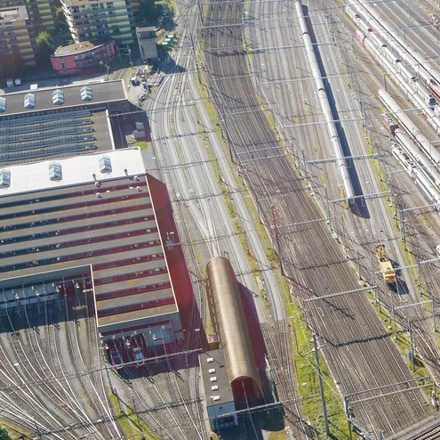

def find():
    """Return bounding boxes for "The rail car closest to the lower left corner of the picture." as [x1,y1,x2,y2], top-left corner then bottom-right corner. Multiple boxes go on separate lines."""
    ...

[104,345,124,375]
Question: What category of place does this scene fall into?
rail yard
